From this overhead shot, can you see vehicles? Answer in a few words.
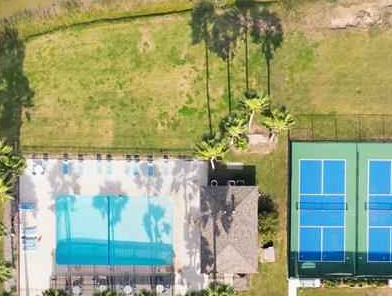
No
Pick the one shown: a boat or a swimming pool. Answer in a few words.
swimming pool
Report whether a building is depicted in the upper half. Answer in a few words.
No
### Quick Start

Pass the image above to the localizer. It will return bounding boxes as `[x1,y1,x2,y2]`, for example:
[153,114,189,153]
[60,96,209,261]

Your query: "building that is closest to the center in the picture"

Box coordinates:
[201,186,258,274]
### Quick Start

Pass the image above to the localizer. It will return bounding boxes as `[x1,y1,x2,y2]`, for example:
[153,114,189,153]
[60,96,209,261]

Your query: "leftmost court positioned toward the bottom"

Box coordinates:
[290,140,357,276]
